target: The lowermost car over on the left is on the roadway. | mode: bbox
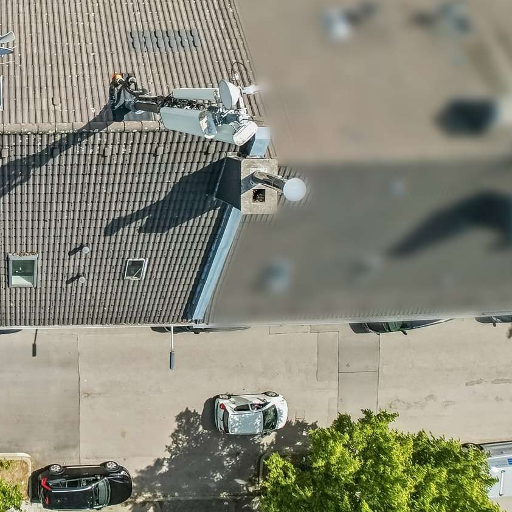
[38,468,131,512]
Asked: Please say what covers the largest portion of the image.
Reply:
buildings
